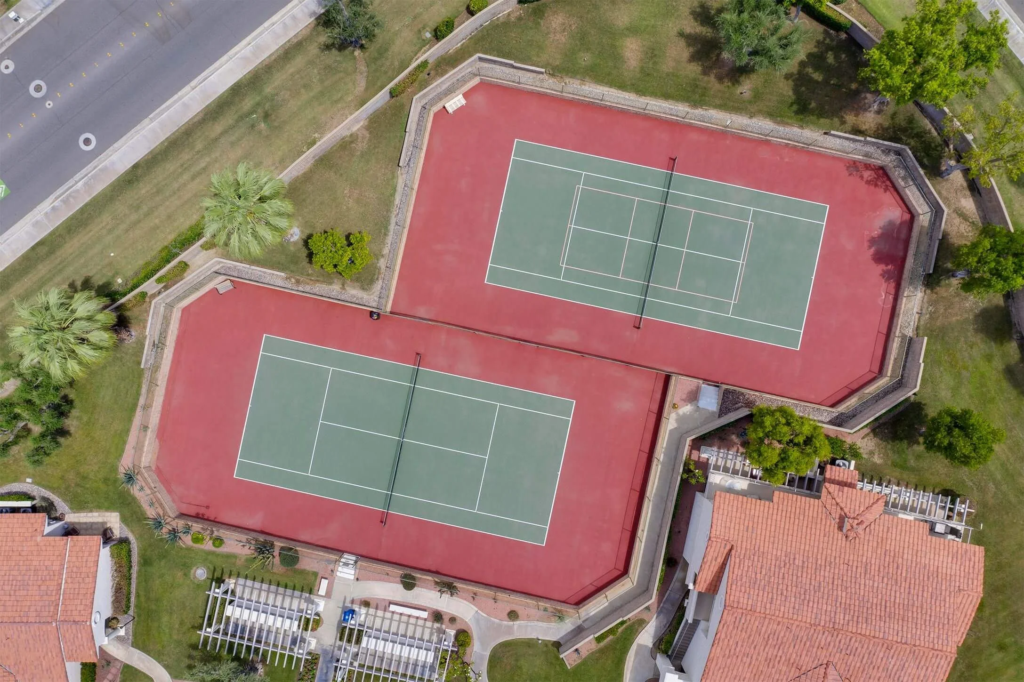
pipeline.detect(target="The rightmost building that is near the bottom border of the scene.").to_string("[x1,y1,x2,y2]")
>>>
[648,460,985,682]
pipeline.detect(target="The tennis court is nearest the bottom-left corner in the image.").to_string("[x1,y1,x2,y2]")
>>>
[156,280,670,605]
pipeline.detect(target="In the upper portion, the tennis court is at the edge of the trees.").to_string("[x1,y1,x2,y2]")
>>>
[390,82,914,407]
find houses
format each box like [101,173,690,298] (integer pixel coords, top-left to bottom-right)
[648,460,985,682]
[0,508,118,682]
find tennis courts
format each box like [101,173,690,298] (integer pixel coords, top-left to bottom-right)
[156,280,670,605]
[390,82,914,407]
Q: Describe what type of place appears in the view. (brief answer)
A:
sports ground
